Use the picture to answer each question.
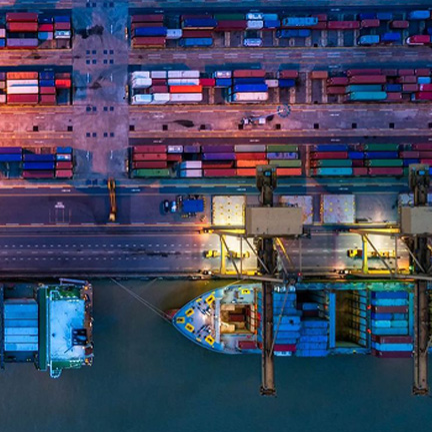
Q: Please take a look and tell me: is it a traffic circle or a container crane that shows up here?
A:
container crane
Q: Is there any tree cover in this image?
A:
No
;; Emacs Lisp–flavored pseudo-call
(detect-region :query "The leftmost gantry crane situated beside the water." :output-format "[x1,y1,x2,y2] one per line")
[205,166,299,395]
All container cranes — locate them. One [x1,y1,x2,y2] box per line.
[347,164,432,395]
[205,166,299,395]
